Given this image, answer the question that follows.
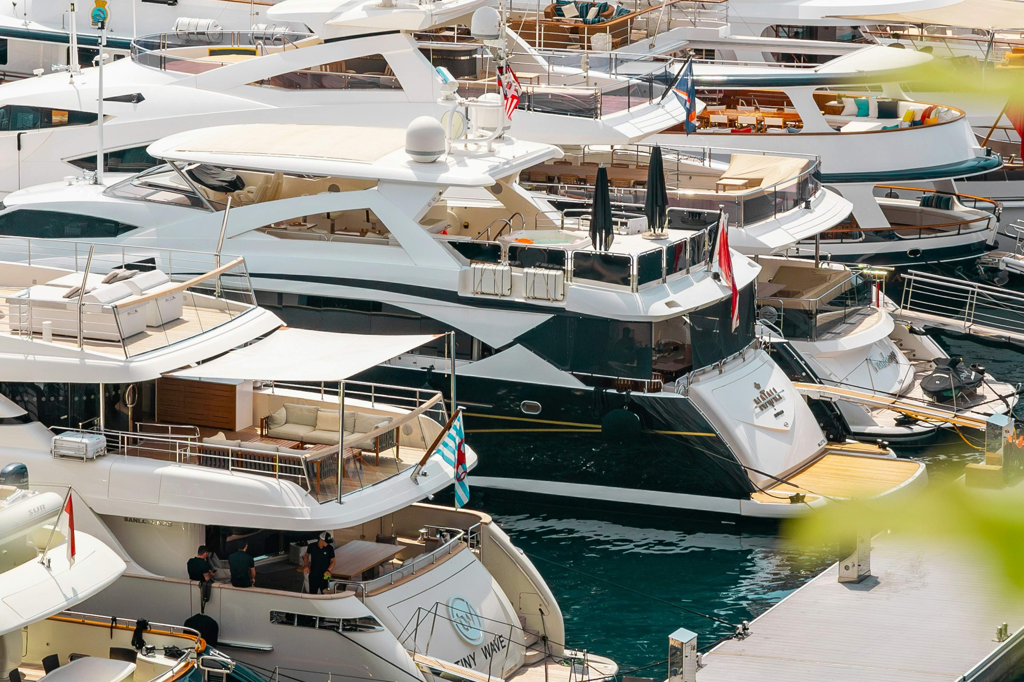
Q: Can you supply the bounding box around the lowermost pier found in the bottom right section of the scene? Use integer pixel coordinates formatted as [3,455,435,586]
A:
[696,408,1024,682]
